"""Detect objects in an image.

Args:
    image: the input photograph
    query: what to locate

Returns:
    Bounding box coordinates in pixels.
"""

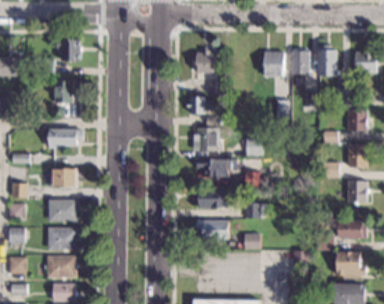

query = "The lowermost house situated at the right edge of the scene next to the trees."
[334,284,368,304]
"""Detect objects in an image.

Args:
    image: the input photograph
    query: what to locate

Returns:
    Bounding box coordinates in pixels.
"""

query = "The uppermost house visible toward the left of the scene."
[64,39,85,62]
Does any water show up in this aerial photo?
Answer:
No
